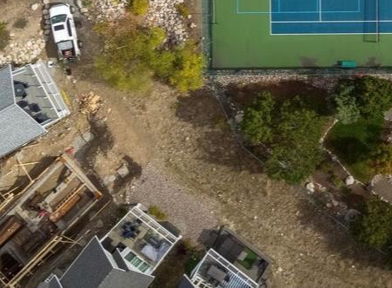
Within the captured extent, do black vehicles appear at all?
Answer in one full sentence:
No, I can see no black vehicle in this picture.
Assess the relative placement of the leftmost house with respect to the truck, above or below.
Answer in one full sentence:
In the image, the leftmost house sits below the truck.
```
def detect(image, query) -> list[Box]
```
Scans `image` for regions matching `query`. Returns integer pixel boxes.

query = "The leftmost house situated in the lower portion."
[42,198,190,288]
